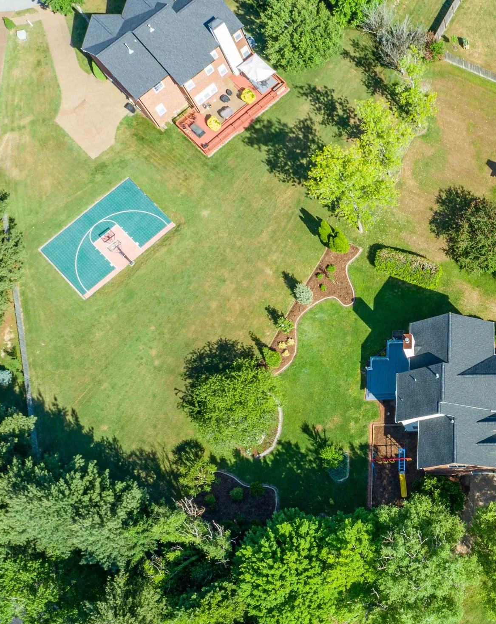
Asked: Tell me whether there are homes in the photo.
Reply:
Yes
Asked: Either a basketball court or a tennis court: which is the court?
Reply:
basketball court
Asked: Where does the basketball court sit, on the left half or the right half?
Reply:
left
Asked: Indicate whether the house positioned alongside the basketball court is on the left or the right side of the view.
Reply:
left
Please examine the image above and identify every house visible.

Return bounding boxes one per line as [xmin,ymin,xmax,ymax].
[395,315,496,471]
[82,0,253,121]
